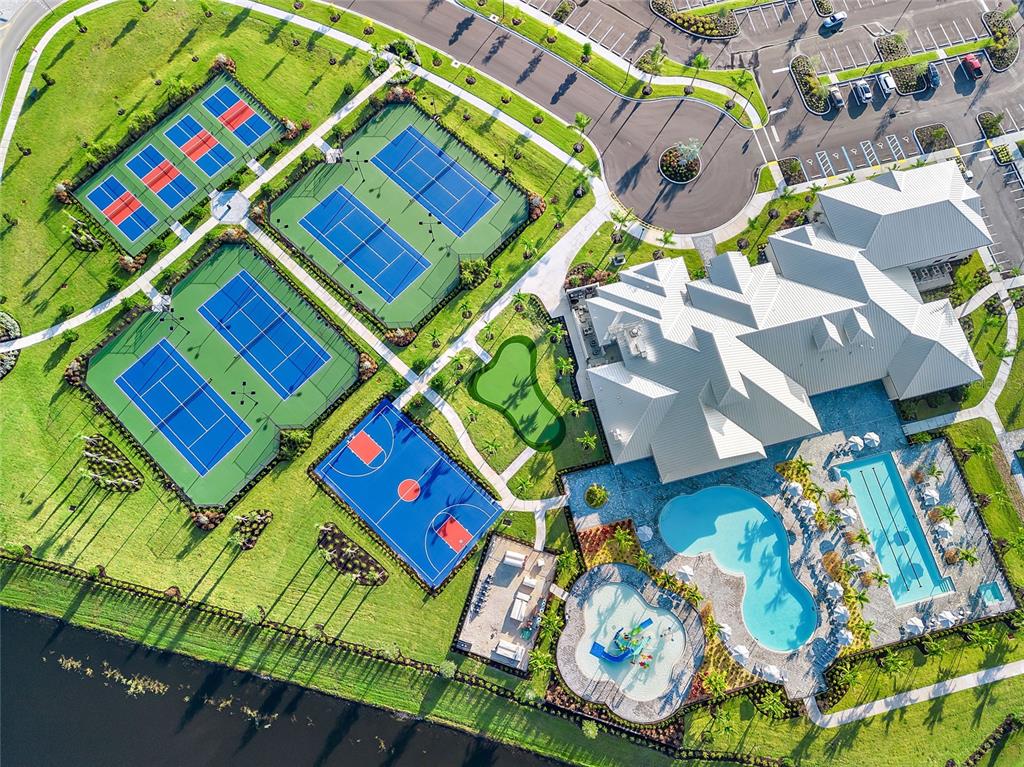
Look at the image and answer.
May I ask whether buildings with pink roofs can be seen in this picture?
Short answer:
No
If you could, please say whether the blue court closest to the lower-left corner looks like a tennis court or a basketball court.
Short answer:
tennis court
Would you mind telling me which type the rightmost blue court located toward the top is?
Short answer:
tennis court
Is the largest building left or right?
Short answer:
right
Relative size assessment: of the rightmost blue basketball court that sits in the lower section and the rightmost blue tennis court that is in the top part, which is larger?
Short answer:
the basketball court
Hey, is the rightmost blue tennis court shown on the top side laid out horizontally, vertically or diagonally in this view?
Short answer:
diagonally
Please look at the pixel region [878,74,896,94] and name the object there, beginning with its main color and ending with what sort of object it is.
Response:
white car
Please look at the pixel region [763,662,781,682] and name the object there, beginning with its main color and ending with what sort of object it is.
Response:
white umbrella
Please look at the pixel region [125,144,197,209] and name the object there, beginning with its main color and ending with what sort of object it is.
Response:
blue sports court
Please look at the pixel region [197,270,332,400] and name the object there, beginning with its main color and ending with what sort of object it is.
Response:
blue tennis court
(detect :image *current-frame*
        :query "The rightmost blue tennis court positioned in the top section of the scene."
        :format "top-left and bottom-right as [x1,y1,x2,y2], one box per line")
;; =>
[370,124,500,238]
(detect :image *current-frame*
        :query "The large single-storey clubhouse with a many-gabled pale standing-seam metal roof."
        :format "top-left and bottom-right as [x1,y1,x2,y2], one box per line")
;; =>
[585,160,993,484]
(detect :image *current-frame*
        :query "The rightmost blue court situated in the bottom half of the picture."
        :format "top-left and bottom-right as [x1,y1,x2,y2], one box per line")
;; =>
[314,398,504,585]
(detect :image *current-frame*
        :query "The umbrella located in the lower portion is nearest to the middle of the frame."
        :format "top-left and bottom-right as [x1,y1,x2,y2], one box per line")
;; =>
[635,524,653,542]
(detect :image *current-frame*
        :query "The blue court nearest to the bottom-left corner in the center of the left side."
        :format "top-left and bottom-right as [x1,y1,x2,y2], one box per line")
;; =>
[114,338,252,477]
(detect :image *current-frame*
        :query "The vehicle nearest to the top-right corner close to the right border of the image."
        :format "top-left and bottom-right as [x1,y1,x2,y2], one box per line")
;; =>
[963,55,983,80]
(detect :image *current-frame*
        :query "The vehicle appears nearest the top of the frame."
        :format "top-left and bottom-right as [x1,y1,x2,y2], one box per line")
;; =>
[823,12,846,28]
